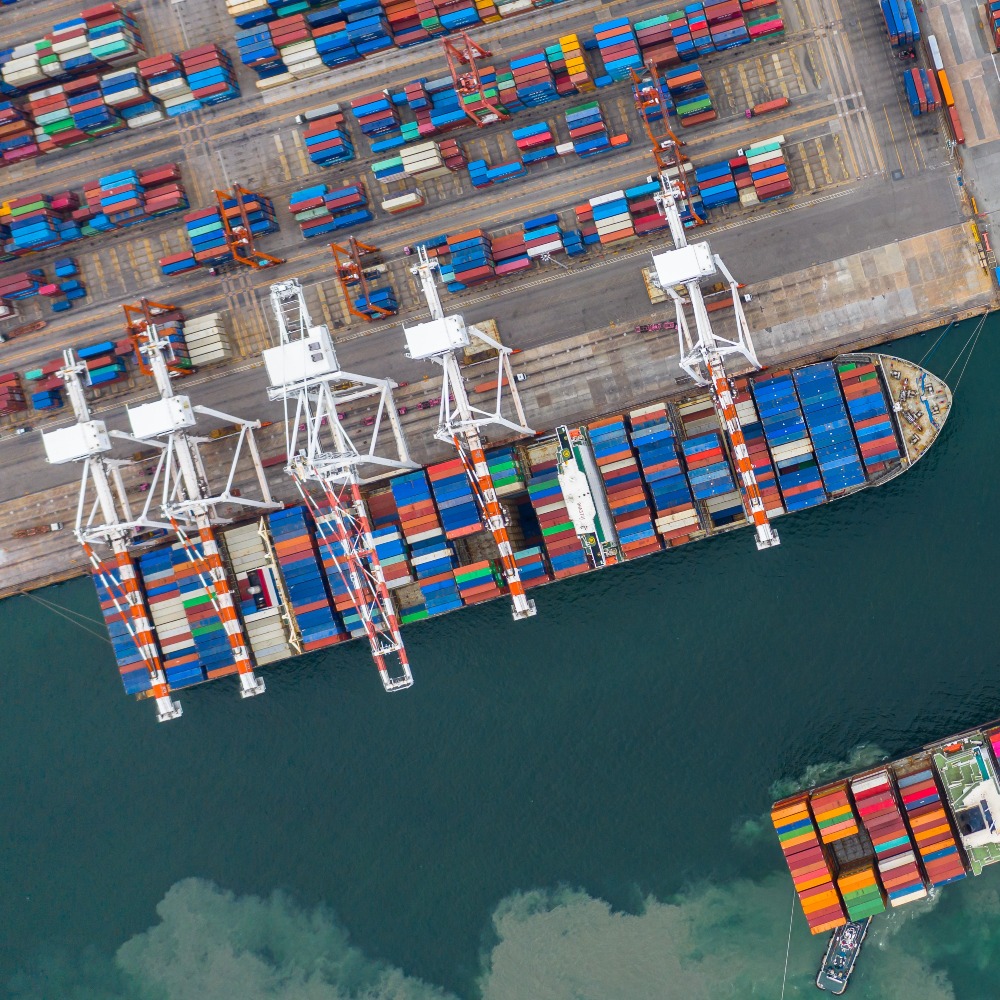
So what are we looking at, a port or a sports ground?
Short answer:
port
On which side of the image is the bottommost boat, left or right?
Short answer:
right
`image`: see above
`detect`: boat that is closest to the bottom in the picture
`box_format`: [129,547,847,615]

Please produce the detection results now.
[818,914,872,996]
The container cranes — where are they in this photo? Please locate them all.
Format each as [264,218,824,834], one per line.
[205,180,287,270]
[125,323,298,698]
[322,233,399,321]
[646,139,709,229]
[401,245,550,619]
[625,57,688,152]
[254,279,433,693]
[650,174,778,549]
[112,295,185,377]
[438,30,495,122]
[42,348,221,722]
